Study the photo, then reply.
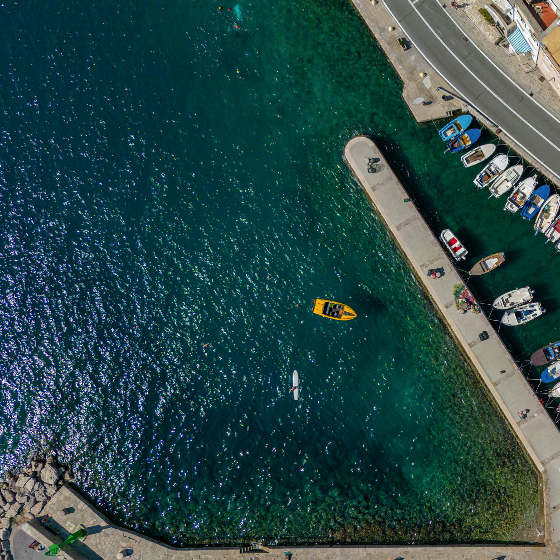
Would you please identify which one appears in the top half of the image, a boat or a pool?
boat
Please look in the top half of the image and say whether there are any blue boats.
Yes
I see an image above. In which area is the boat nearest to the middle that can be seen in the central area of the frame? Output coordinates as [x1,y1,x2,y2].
[311,299,357,322]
